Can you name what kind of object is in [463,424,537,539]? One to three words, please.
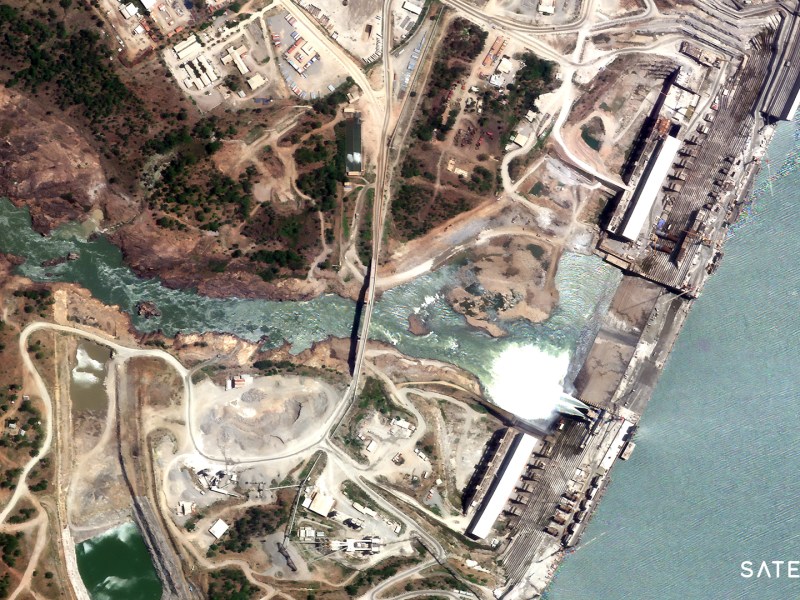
building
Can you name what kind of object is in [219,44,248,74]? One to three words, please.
building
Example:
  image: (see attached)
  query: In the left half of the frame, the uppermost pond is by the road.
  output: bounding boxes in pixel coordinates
[70,339,116,412]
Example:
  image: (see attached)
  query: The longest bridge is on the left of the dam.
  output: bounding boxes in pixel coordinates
[349,249,379,387]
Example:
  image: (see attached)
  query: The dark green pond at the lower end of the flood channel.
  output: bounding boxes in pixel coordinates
[77,520,163,600]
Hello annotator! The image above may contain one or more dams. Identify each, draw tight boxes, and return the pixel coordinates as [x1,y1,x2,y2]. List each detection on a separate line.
[491,0,800,600]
